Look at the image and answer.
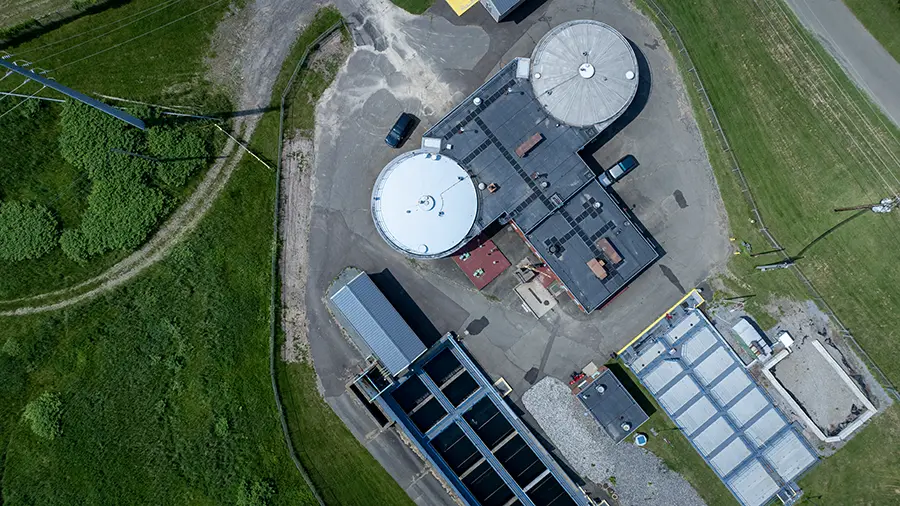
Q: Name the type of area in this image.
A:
industrial area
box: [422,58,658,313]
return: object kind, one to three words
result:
building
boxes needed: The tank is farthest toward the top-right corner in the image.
[530,18,638,131]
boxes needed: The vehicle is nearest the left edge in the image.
[384,112,413,149]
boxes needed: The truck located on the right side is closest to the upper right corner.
[597,151,642,188]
